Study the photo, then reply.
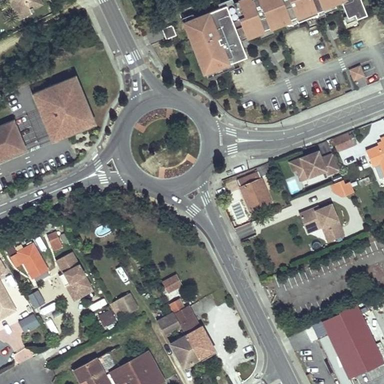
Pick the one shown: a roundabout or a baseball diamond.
roundabout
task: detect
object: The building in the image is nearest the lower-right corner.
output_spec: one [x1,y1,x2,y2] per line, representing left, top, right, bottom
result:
[312,307,384,384]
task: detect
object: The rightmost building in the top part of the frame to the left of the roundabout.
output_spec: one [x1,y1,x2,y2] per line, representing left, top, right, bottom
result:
[33,76,96,144]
